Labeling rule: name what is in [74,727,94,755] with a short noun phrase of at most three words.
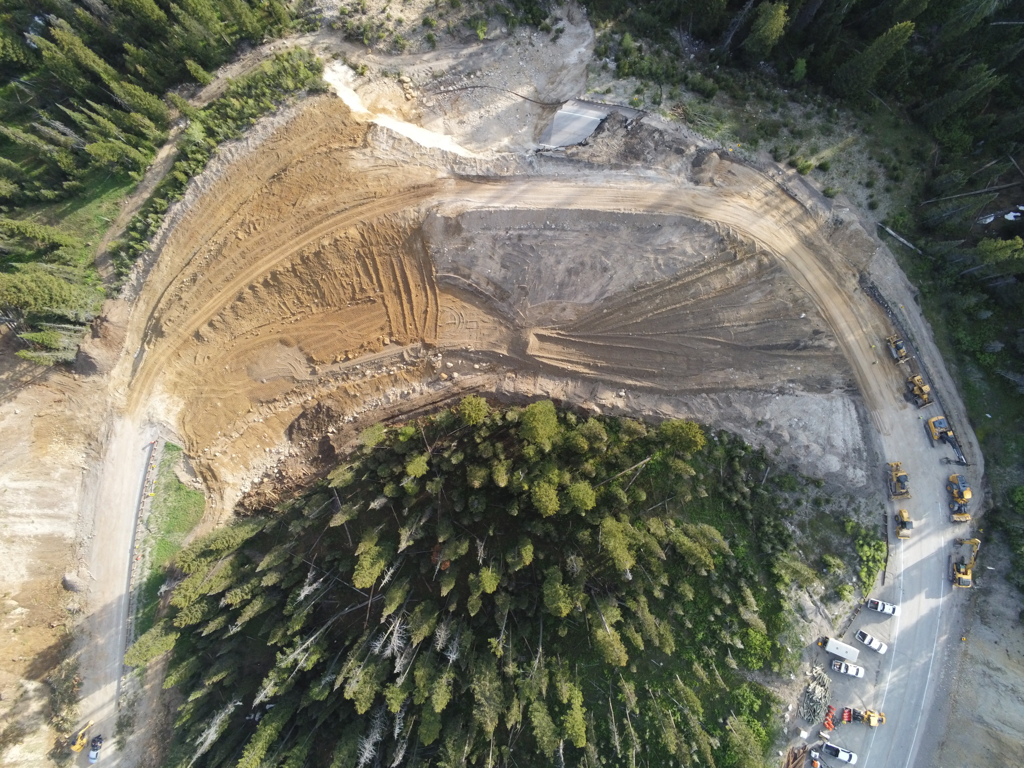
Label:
work vehicle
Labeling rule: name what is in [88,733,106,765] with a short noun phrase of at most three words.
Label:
vehicle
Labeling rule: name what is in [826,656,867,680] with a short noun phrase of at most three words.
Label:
truck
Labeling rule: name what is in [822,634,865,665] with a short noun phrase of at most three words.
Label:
trailer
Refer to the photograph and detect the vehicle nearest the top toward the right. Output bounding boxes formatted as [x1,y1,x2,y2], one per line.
[883,331,912,367]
